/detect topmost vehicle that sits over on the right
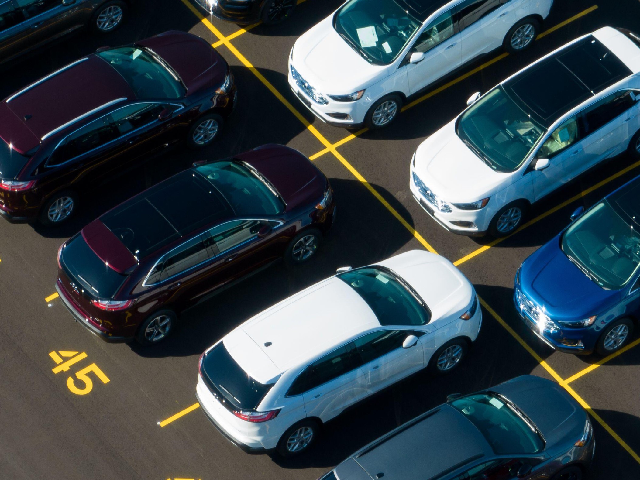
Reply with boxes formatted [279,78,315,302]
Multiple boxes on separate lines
[289,0,559,130]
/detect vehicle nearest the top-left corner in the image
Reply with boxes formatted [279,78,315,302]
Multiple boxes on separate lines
[0,0,137,77]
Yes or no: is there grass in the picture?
No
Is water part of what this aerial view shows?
No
